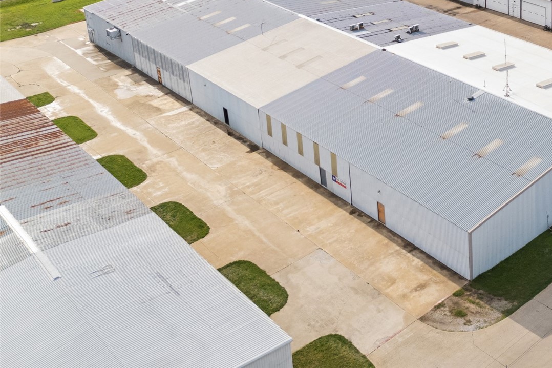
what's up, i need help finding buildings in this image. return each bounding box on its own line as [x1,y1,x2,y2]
[0,81,295,368]
[80,0,552,283]
[458,0,552,29]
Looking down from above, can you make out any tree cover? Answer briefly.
No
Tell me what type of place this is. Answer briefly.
industrial area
